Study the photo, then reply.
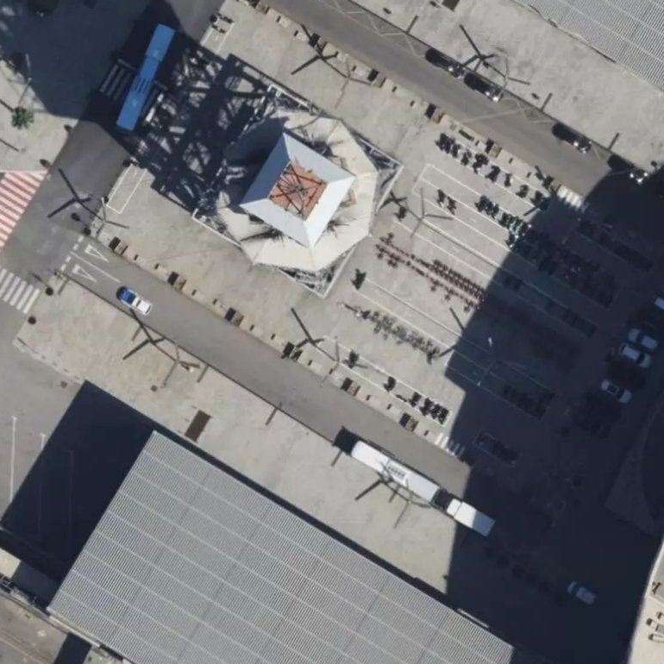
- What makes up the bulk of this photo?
paved ground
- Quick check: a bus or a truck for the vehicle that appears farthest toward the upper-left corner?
bus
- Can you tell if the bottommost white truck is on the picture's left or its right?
right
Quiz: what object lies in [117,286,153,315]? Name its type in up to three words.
car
